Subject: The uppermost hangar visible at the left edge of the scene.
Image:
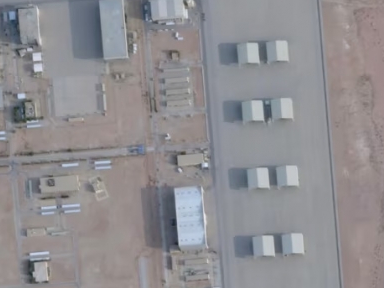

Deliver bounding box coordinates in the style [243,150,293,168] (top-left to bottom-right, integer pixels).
[19,8,41,46]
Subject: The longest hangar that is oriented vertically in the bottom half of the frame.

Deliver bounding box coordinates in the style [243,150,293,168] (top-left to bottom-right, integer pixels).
[175,186,209,250]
